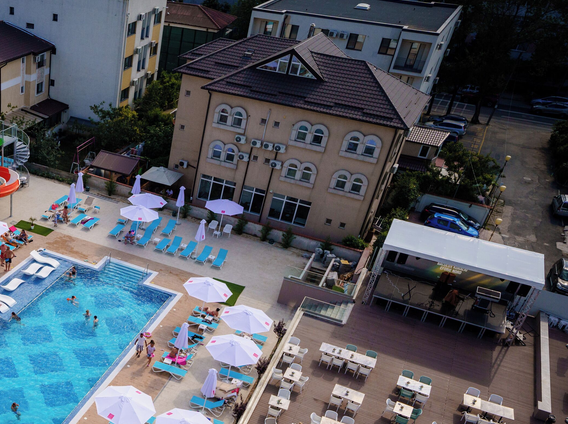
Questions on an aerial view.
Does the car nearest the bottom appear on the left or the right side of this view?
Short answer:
right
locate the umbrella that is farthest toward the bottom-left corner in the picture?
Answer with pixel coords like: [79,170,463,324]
[92,389,155,424]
